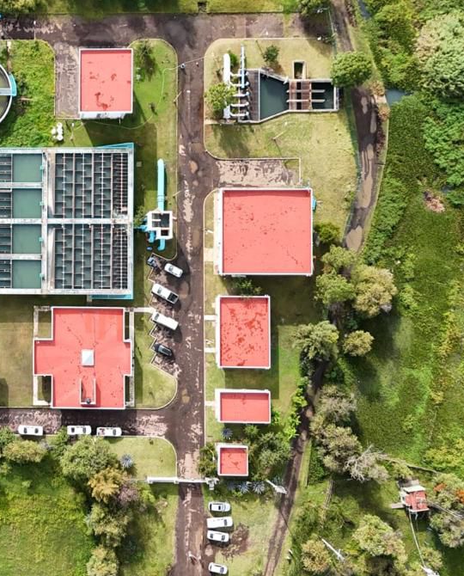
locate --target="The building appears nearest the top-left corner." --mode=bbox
[77,48,133,119]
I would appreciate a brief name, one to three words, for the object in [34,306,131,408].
building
